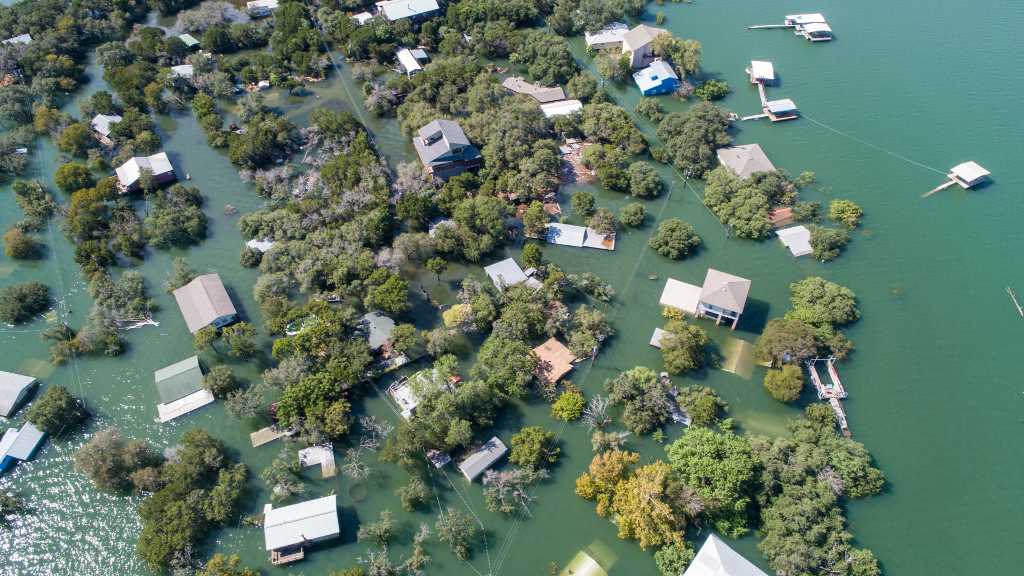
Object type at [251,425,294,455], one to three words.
shed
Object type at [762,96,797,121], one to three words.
building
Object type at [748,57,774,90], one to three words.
building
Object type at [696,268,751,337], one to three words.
house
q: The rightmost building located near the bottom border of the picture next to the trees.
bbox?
[683,534,767,576]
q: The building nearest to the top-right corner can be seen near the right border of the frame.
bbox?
[944,160,989,192]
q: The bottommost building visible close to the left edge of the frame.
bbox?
[0,421,51,471]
